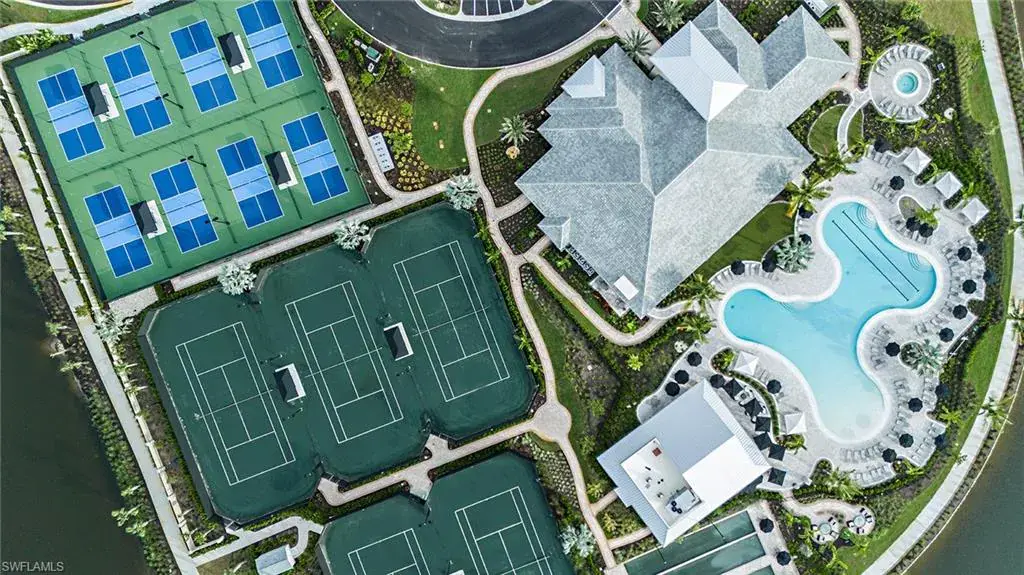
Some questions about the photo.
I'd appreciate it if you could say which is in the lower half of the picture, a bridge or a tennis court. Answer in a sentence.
There is a tennis court in the lower half of the picture.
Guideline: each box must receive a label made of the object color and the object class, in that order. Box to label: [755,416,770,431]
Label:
black umbrella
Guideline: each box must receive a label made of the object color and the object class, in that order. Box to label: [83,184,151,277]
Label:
blue sports court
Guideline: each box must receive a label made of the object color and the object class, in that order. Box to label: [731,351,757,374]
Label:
white tent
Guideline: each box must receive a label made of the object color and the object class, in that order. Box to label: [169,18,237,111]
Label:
blue sports court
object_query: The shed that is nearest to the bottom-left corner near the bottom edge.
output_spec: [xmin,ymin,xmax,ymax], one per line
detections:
[255,538,300,575]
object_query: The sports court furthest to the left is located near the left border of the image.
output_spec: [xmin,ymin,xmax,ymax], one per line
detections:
[37,67,105,160]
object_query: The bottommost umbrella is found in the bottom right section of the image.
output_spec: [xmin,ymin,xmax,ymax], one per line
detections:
[775,550,790,565]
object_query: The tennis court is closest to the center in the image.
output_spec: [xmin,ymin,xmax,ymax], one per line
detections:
[391,238,514,407]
